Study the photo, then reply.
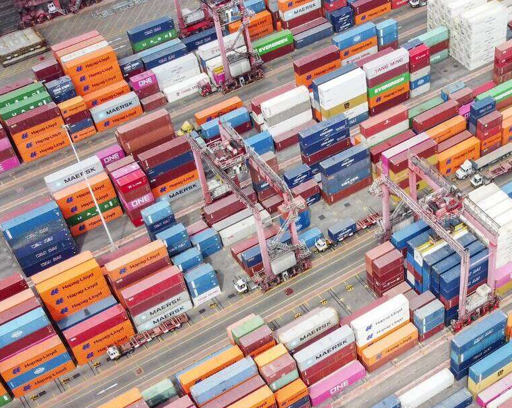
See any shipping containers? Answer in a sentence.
Yes, a shipping container can be made out from above.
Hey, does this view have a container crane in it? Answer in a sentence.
Yes, the photo shows a container crane.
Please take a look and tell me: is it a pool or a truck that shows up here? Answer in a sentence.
It is a truck that can be seen here.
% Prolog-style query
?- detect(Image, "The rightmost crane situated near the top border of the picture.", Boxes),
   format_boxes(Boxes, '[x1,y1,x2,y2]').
[165,0,264,89]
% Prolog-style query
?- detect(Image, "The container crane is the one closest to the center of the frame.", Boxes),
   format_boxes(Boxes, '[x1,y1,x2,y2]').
[175,116,314,290]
